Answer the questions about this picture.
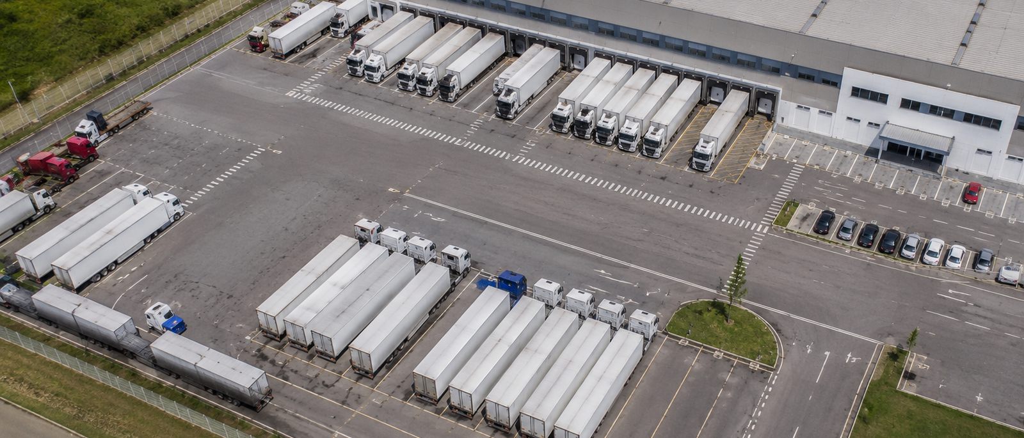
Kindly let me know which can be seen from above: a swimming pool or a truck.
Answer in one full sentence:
It is a truck that can be seen here.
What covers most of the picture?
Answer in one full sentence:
For the most part, this view shows paved ground.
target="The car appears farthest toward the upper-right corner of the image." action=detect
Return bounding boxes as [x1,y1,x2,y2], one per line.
[963,181,980,204]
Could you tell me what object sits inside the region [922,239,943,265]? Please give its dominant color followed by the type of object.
white car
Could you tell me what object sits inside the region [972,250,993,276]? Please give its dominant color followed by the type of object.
gray car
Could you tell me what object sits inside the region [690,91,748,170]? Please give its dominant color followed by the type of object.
white truck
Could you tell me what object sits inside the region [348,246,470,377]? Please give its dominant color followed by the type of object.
white truck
